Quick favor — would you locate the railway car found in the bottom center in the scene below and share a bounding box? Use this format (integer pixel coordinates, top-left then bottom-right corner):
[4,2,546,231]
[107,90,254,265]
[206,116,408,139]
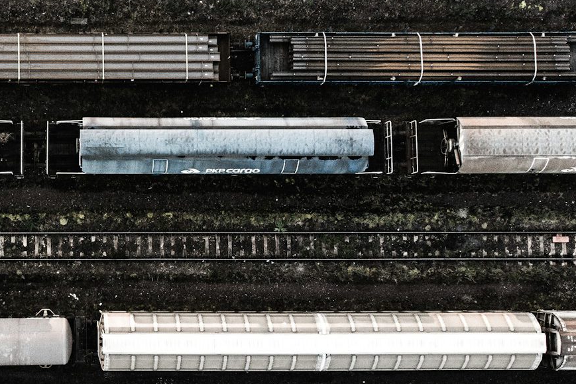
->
[83,307,548,374]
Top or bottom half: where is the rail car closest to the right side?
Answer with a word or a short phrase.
bottom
